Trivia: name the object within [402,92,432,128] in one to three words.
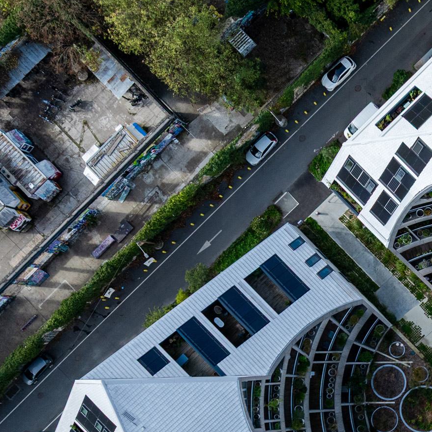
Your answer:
solar array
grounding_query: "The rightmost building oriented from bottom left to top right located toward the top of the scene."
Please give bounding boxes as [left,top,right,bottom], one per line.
[82,123,151,186]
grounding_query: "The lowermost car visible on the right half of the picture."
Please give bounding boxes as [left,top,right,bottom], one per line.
[244,131,281,166]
